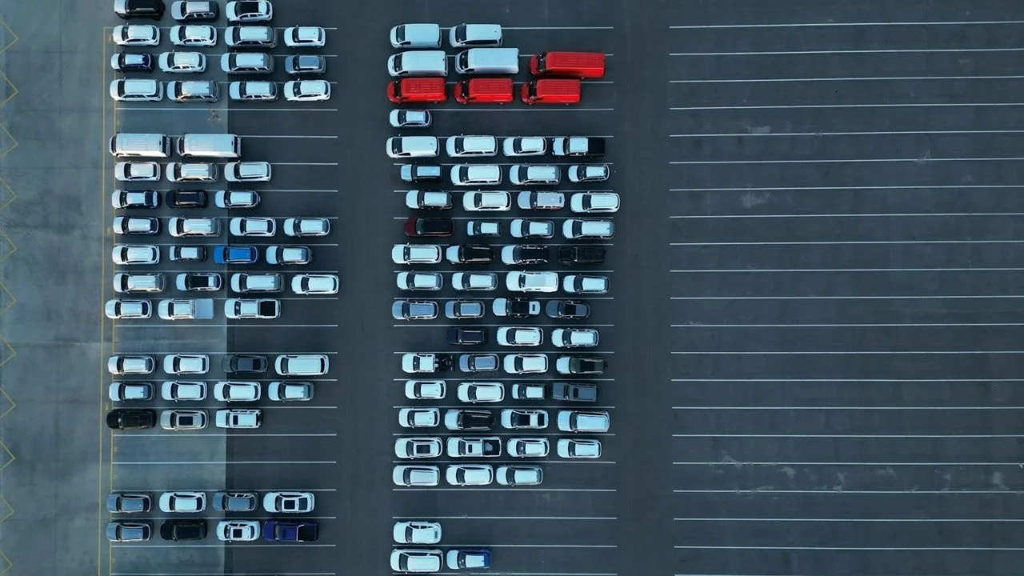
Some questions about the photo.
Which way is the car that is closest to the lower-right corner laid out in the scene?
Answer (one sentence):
Seen from above, the car that is closest to the lower-right corner lies from left to right.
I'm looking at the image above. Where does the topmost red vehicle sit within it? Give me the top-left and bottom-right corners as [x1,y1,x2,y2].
[529,52,605,79]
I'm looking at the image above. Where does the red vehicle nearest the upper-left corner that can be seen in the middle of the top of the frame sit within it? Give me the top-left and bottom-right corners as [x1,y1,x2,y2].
[387,78,447,104]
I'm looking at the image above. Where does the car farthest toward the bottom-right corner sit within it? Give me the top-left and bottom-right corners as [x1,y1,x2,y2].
[557,438,602,461]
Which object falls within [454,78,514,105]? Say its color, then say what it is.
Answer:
red vehicle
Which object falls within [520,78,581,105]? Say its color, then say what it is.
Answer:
red vehicle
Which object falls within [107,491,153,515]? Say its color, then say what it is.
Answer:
blue car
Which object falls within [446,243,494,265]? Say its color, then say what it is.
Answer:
black car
